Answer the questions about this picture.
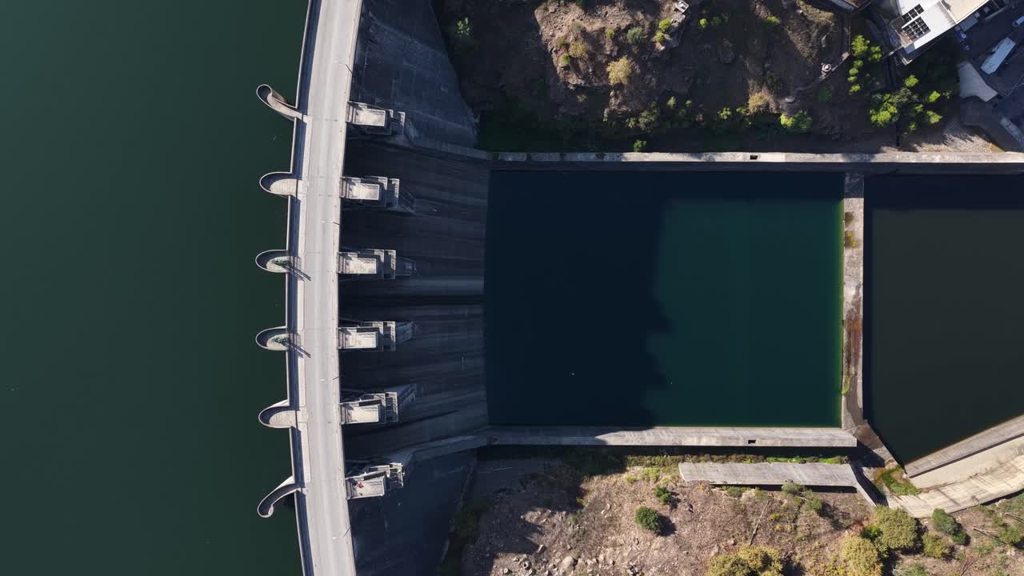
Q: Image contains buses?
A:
Yes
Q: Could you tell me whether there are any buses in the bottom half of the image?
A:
No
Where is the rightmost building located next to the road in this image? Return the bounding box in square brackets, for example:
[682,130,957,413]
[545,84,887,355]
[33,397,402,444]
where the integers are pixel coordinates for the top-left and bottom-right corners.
[878,0,990,67]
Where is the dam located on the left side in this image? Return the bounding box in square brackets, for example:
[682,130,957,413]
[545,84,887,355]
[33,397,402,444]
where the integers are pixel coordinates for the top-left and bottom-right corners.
[256,0,500,576]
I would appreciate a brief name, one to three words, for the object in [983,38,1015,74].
bus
